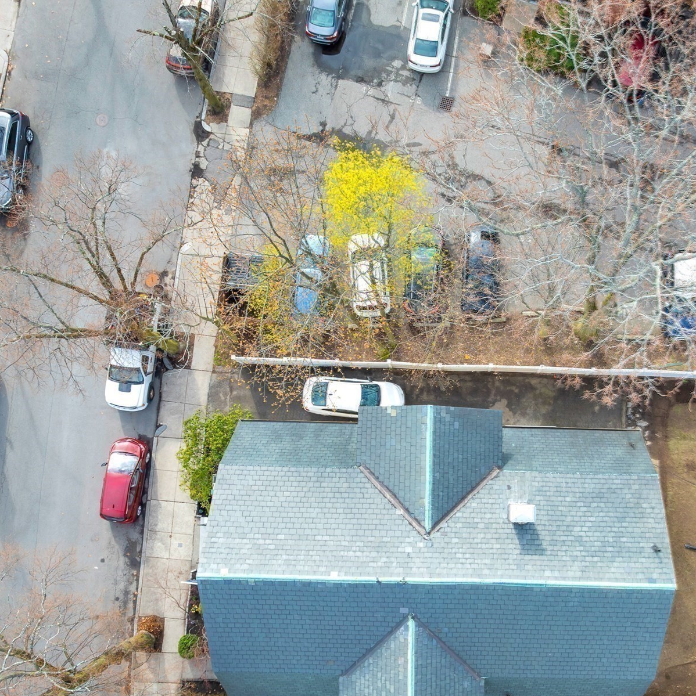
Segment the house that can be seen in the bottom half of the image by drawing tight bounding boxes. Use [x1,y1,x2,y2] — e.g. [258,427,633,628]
[182,404,679,696]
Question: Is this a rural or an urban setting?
urban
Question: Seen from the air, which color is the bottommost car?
red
